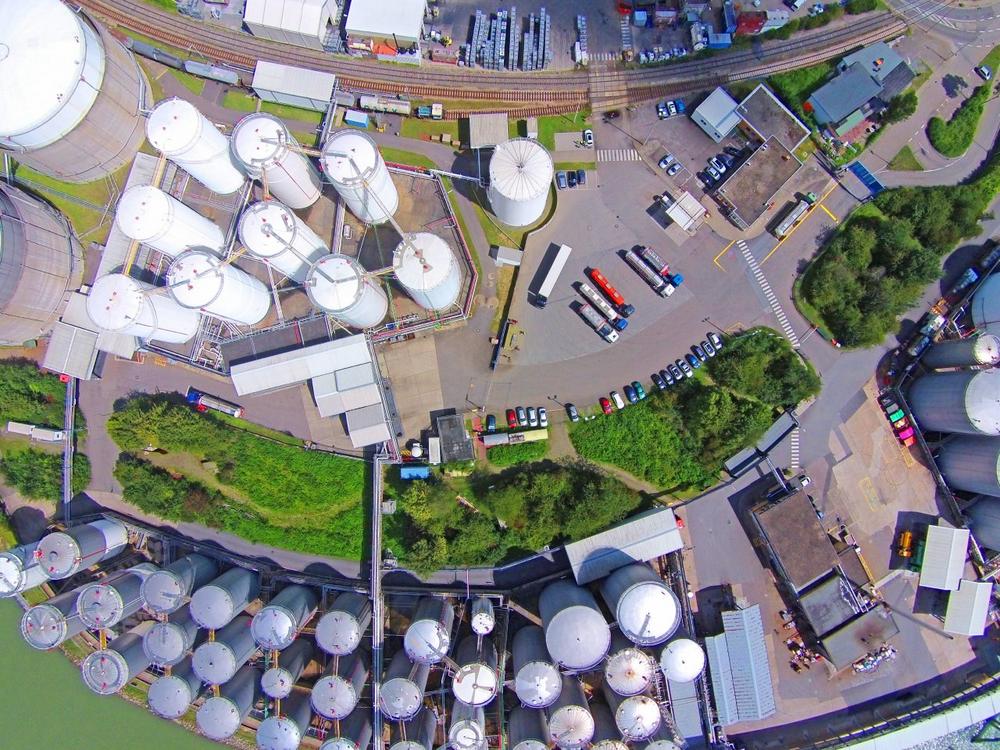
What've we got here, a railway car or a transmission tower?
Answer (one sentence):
This aerial view contains a railway car.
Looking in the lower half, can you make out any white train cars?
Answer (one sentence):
No, the scene shows no white train car in the lower half.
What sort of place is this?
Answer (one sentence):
The area seen from above is an industrial area.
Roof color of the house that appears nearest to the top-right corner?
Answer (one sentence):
The color of the roof on the house that appears nearest to the top-right corner is blue.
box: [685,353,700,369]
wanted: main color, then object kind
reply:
blue car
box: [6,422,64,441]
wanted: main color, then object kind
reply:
white vehicle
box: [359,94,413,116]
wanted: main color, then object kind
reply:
white rail car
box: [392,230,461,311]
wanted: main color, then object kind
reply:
white storage tank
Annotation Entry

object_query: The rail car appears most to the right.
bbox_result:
[418,104,443,119]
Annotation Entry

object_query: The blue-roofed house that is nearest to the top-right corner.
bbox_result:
[802,41,915,141]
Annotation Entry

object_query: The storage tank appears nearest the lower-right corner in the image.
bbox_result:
[962,496,1000,551]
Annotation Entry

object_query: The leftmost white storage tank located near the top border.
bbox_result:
[0,0,151,180]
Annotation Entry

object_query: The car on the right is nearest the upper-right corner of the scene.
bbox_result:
[975,64,991,82]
